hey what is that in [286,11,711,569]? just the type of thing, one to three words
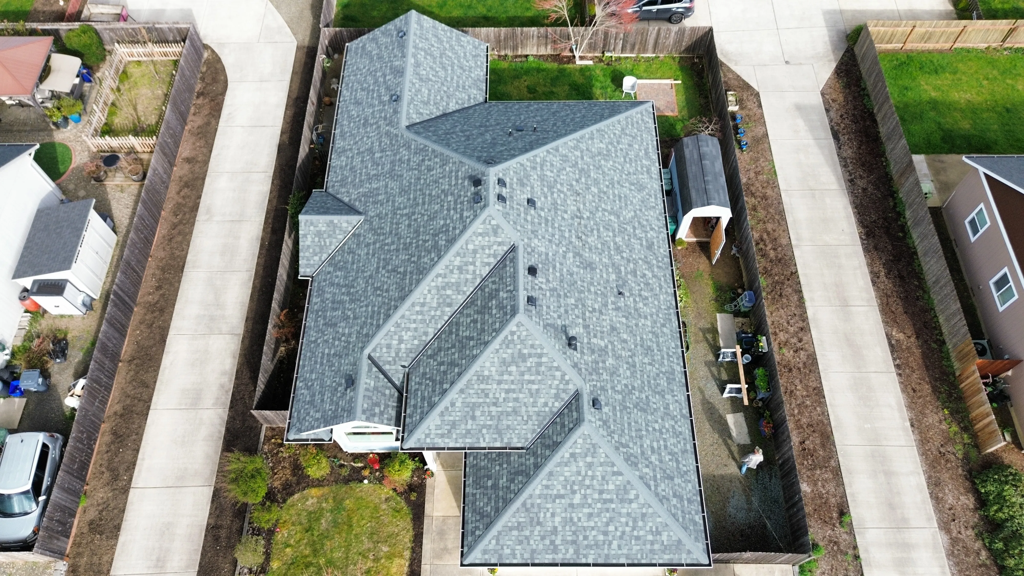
house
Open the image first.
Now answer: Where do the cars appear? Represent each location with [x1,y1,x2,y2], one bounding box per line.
[0,425,69,545]
[605,0,694,23]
